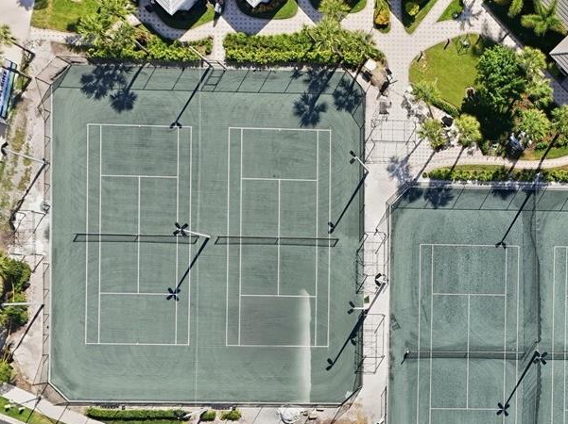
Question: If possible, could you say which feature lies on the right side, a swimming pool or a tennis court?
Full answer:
It is a tennis court that can be seen on the right side.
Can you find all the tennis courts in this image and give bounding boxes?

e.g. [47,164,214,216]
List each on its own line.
[534,190,568,424]
[197,66,364,403]
[49,64,198,402]
[387,189,534,424]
